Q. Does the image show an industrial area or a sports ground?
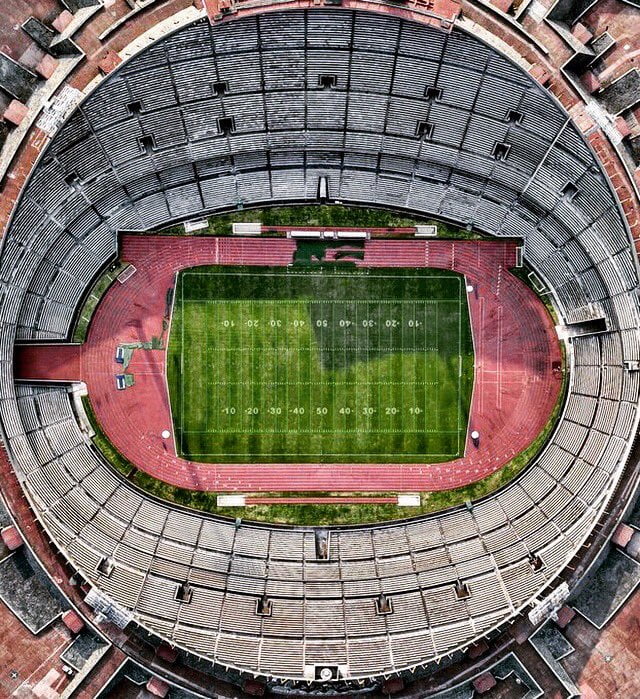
sports ground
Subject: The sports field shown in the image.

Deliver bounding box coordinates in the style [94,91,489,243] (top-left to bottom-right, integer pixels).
[168,266,474,463]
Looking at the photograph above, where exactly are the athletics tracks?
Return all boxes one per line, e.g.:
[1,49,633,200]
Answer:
[83,237,562,492]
